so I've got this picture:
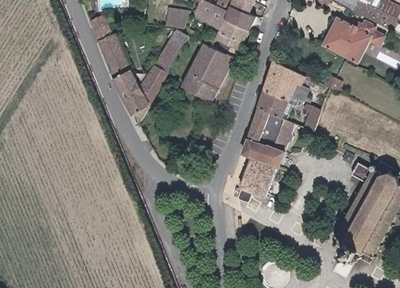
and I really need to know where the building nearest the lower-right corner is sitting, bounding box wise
[332,163,400,278]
